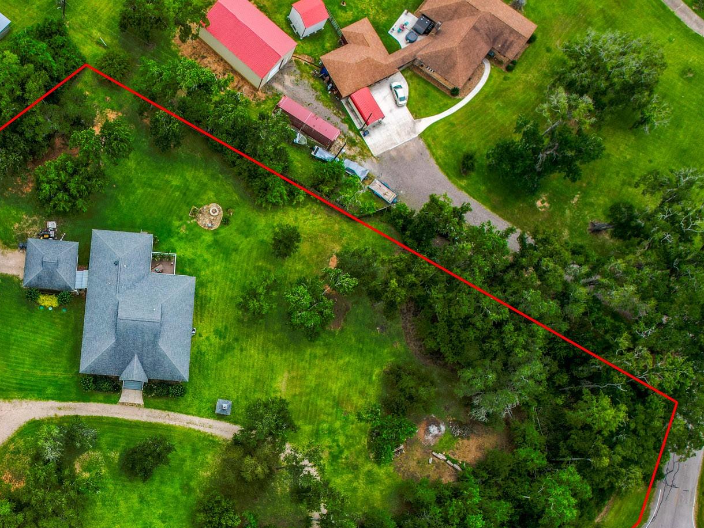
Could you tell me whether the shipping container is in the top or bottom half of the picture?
top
